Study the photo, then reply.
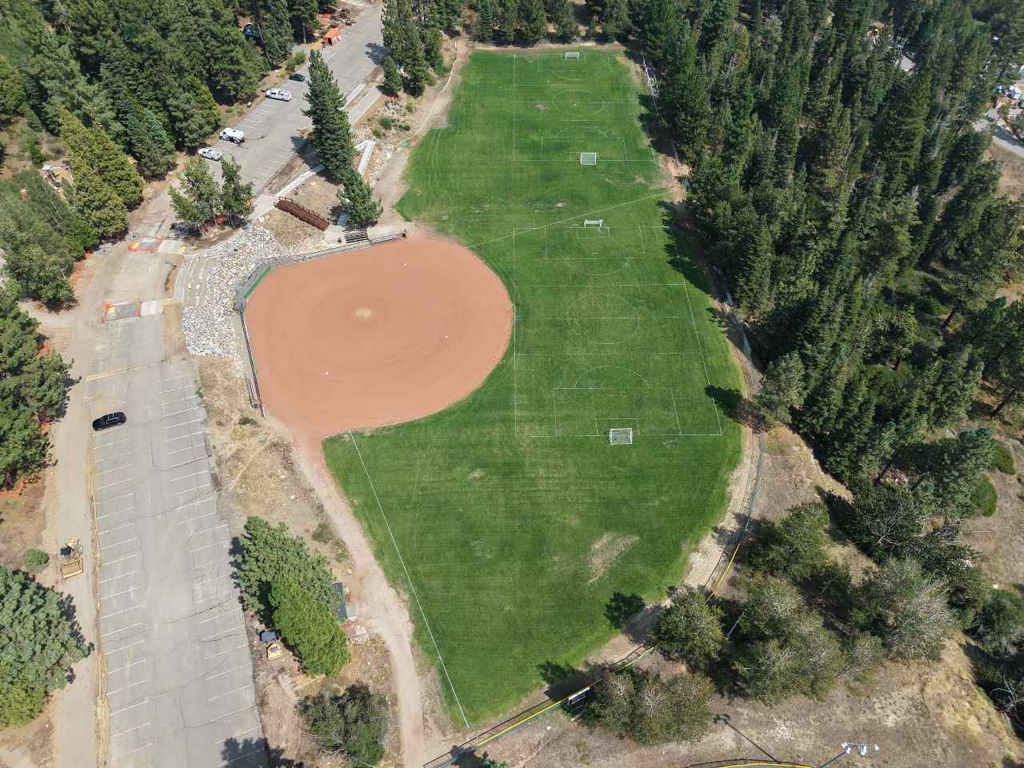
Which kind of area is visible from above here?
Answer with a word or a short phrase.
sports ground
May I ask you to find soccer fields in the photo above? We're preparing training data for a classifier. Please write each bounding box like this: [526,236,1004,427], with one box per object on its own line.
[513,54,654,161]
[514,227,721,436]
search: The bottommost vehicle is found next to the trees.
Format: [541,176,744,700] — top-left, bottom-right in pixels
[256,622,281,661]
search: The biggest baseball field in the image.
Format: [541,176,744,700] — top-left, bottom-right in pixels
[242,44,751,735]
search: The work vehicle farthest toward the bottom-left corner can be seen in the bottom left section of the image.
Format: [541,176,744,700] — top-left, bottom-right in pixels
[56,539,82,583]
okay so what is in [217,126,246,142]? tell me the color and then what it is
white vehicle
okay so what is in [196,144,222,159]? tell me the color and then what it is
white vehicle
